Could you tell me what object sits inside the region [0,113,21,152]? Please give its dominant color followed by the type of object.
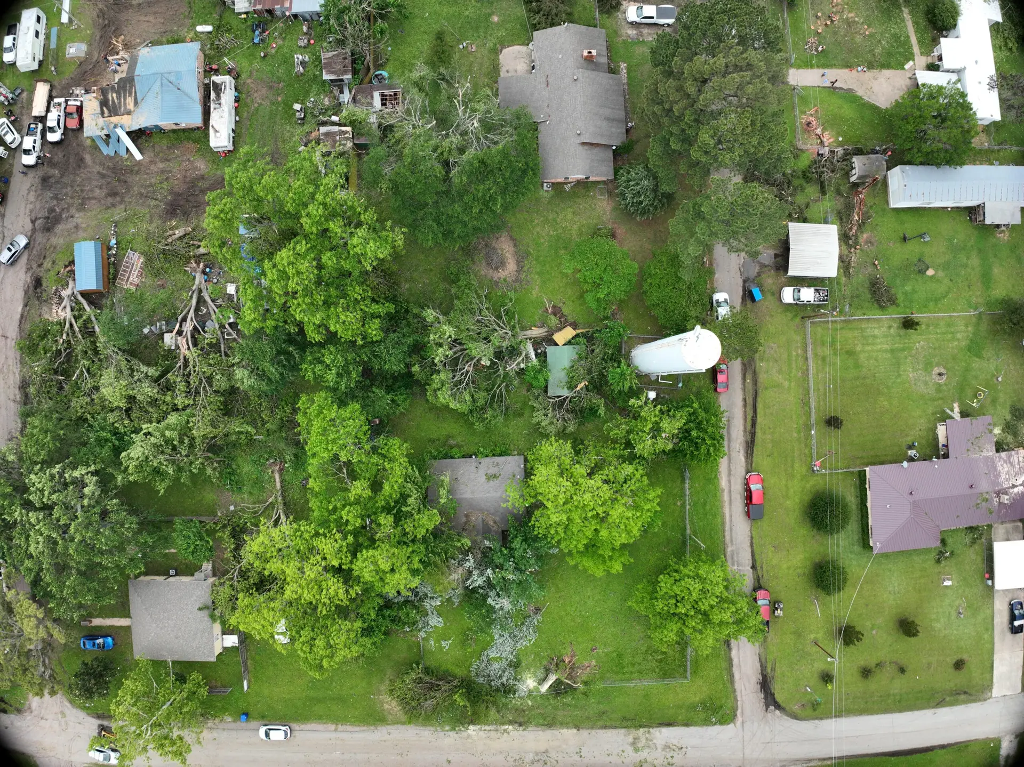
white car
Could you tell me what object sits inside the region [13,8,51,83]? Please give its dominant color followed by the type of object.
white trailer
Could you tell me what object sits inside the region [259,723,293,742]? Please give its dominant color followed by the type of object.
white car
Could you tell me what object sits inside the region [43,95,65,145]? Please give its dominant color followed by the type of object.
white truck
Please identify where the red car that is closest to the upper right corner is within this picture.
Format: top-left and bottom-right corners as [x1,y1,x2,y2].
[712,359,730,394]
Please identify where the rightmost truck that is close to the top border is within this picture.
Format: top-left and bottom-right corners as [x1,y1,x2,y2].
[626,4,677,27]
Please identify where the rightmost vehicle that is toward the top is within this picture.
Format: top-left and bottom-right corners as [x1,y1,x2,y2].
[781,286,830,304]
